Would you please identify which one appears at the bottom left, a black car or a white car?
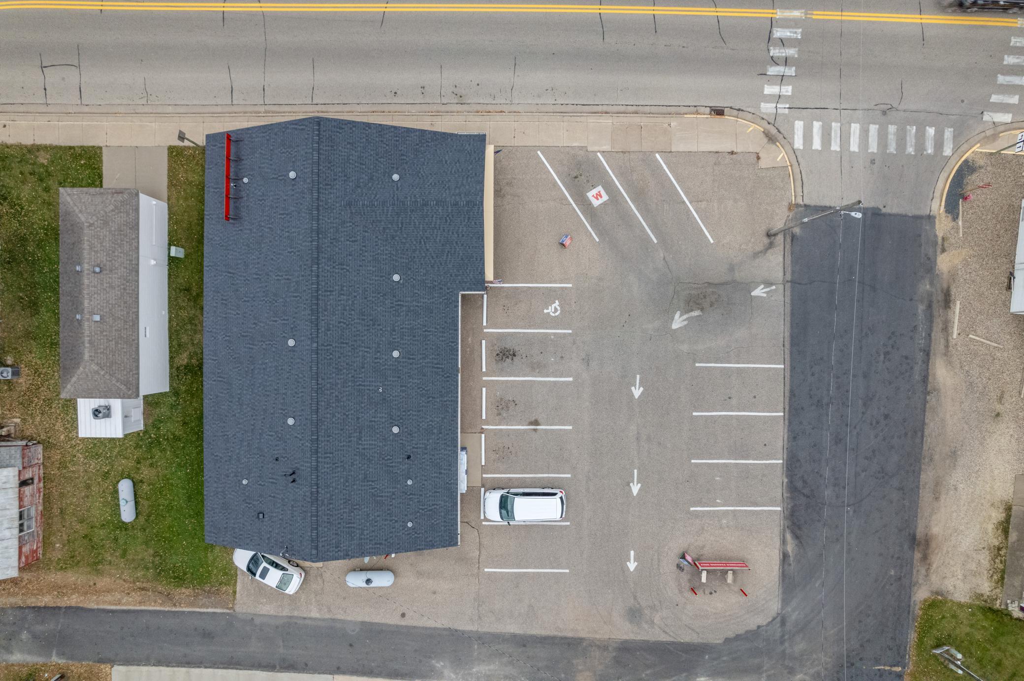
white car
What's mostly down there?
paved ground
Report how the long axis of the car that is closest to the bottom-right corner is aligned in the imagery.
horizontally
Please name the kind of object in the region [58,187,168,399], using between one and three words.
house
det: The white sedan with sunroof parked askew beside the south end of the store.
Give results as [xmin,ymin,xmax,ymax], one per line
[235,550,306,599]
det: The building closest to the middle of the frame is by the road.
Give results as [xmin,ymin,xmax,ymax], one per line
[205,115,486,562]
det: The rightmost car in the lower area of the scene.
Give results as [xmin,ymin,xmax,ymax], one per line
[484,486,566,525]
